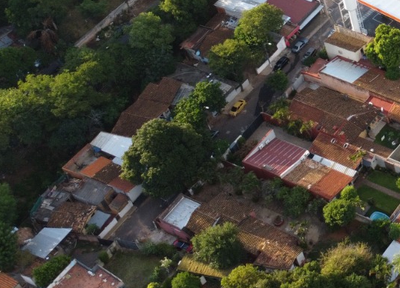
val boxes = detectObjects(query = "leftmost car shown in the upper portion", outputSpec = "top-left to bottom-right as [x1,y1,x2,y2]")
[230,99,246,117]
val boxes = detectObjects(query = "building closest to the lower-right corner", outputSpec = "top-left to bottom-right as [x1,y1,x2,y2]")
[381,245,400,278]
